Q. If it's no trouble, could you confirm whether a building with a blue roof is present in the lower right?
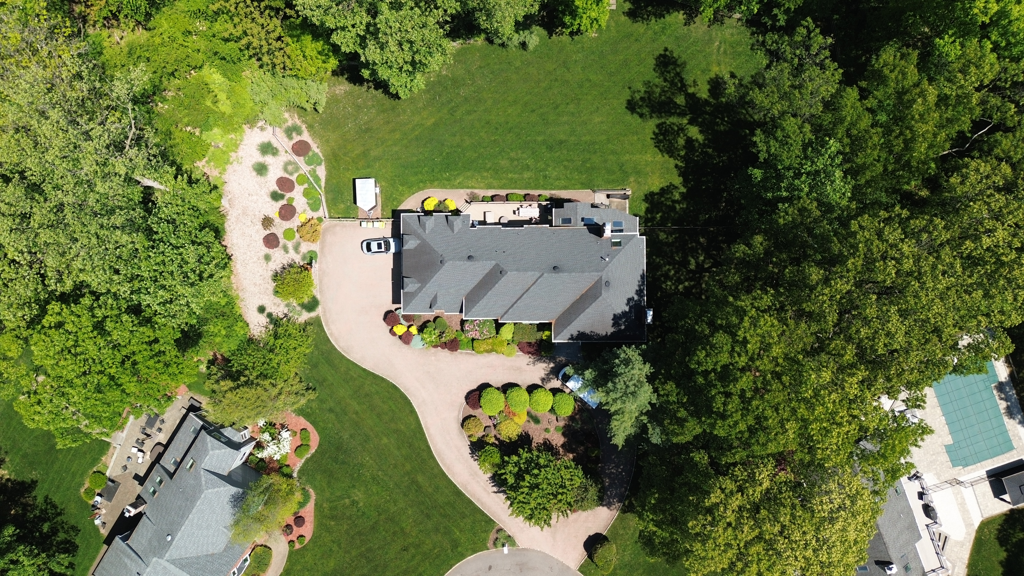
No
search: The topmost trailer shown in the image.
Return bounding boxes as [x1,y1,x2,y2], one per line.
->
[355,178,380,218]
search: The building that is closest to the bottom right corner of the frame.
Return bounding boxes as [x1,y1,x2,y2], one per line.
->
[988,470,1024,507]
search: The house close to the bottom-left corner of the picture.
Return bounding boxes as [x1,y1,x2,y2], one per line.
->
[94,410,262,576]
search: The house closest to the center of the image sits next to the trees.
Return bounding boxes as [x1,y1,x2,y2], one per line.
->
[401,202,653,347]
